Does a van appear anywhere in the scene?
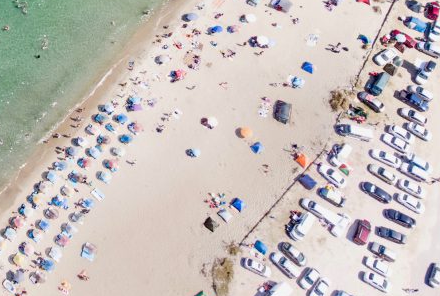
Yes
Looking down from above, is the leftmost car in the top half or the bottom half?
bottom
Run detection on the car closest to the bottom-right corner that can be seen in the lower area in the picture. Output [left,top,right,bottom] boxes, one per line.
[423,259,440,290]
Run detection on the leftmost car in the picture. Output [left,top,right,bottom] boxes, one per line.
[242,258,271,280]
